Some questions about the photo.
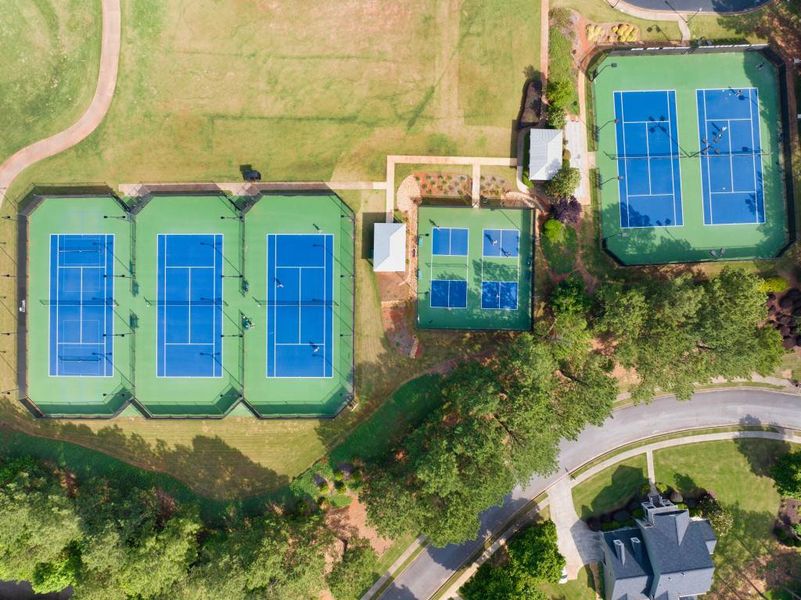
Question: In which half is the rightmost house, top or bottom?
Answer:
bottom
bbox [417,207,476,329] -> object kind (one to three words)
sports court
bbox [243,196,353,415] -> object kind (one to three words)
tennis court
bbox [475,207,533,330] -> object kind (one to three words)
sports court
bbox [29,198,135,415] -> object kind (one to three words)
tennis court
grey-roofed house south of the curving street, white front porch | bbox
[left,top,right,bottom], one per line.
[596,485,718,600]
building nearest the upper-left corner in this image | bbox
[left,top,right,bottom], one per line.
[374,223,406,272]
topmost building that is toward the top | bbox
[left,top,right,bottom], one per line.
[527,129,562,182]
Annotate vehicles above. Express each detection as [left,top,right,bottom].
[242,168,259,180]
[555,568,568,588]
